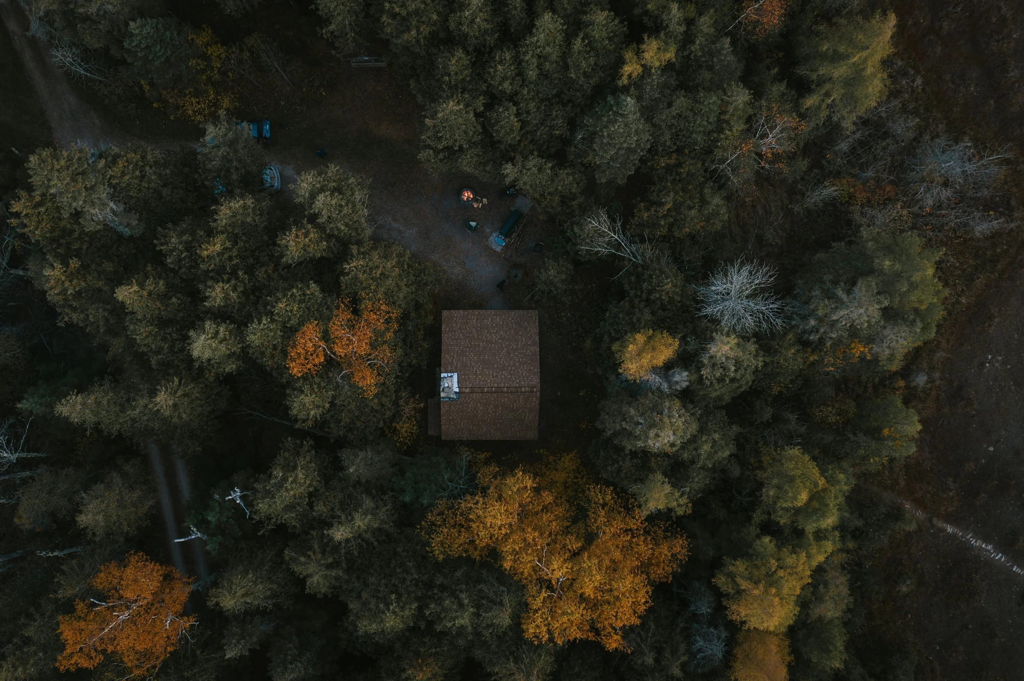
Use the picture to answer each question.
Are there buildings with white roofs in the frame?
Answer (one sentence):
No, there appears to be no building with a white roof in this shot.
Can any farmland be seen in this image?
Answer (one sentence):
No, farmland can't be seen anywhere here.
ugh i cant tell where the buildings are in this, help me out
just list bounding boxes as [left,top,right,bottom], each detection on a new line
[428,310,539,441]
